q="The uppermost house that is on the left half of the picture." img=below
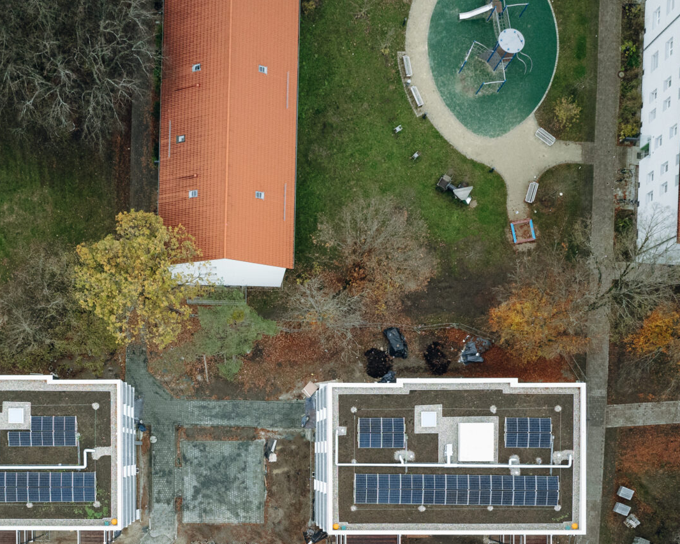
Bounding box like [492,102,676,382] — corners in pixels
[154,0,299,286]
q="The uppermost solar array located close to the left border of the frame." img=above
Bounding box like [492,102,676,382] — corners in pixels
[8,416,78,446]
